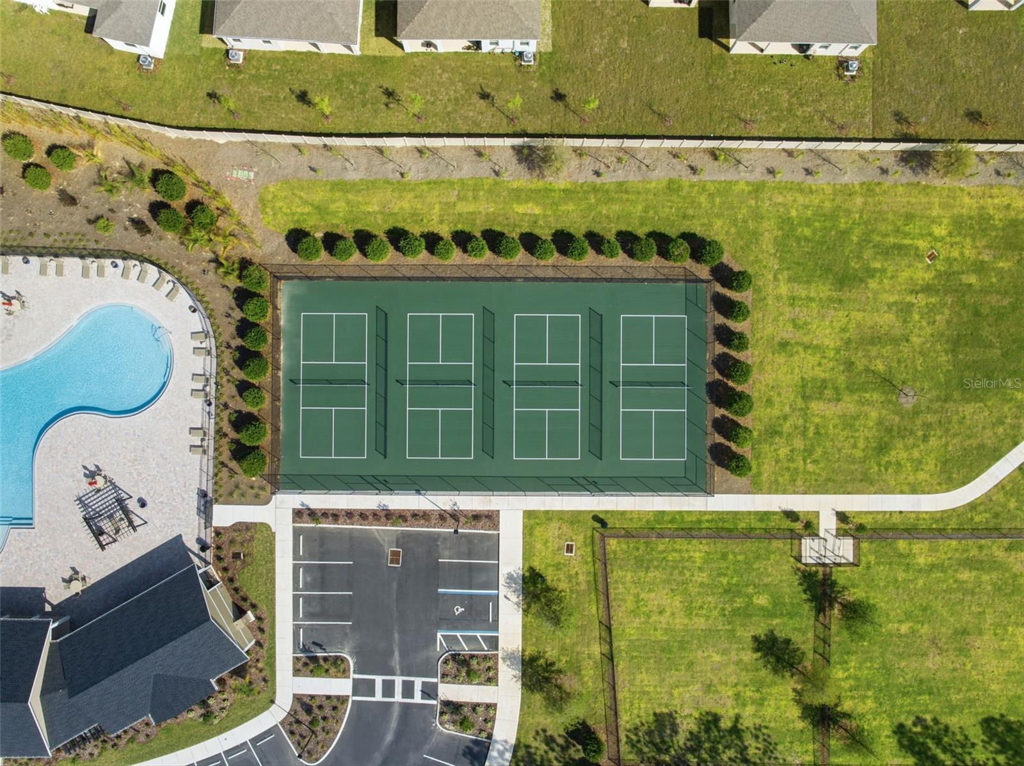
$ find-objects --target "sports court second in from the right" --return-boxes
[514,314,580,459]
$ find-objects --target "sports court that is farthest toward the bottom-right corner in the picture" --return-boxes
[620,315,686,460]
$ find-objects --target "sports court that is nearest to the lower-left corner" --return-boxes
[300,313,367,458]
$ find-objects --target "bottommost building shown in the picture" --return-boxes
[0,562,255,759]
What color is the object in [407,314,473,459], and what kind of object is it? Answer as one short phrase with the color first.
green sports court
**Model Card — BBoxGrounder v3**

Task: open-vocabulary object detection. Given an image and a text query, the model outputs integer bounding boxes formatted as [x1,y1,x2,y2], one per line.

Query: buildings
[649,0,699,6]
[730,0,878,55]
[0,562,255,759]
[211,0,362,54]
[968,0,1024,10]
[396,0,542,52]
[14,0,175,58]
